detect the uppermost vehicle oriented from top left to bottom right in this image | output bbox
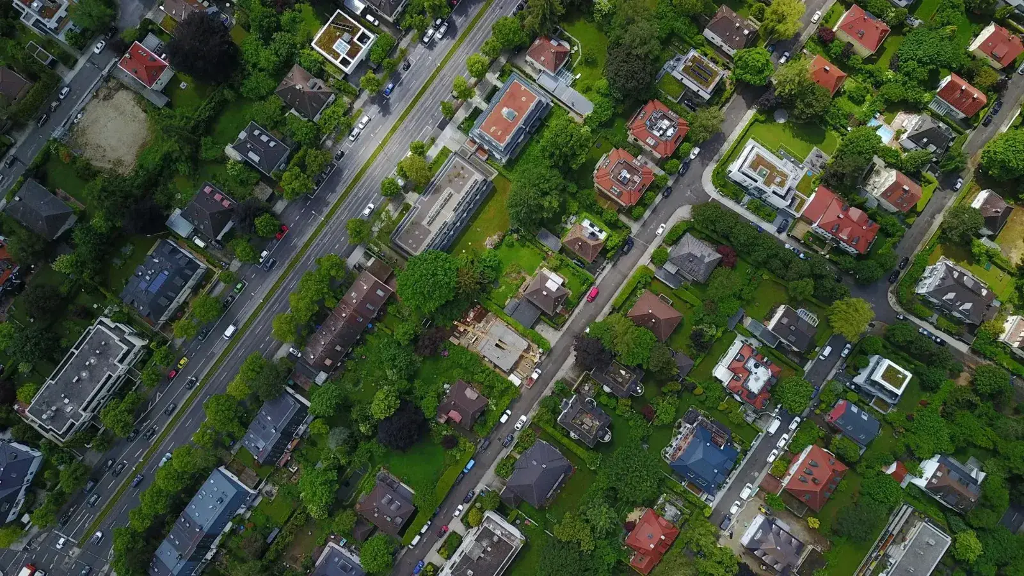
[363,13,380,28]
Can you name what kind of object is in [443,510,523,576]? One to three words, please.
building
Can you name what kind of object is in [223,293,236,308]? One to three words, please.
vehicle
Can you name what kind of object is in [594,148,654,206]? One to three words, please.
house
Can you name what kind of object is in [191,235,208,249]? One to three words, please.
vehicle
